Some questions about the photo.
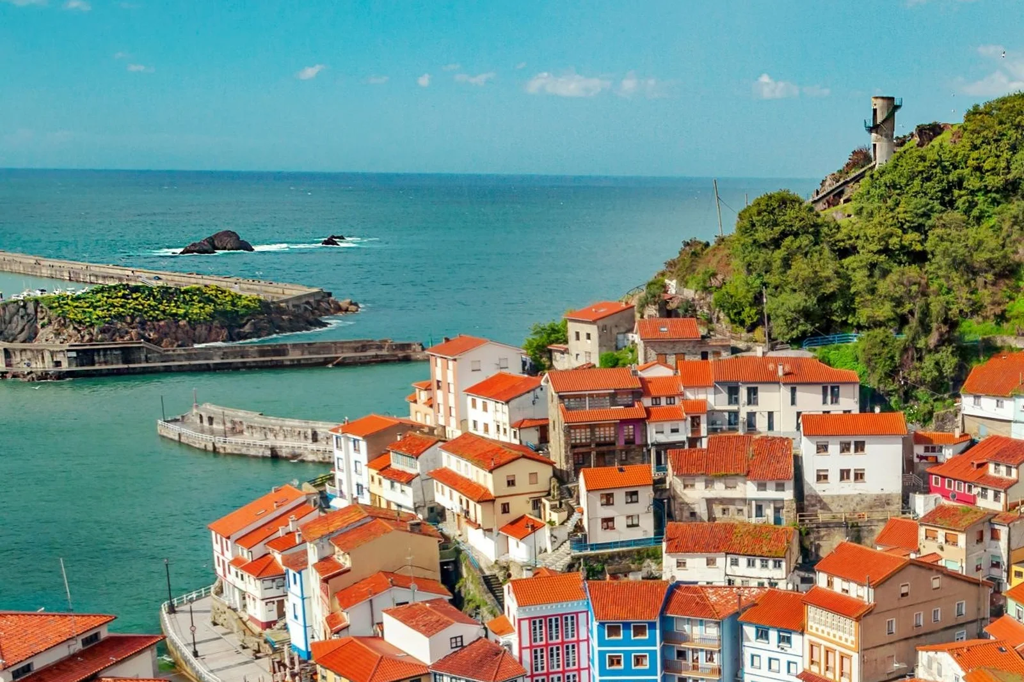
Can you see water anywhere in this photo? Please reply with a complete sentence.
Yes, there is water in the image.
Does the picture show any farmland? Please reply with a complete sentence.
No, there is no farmland in the image.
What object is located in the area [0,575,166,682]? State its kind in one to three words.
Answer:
building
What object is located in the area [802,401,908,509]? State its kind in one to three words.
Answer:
house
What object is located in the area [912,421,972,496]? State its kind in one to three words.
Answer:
house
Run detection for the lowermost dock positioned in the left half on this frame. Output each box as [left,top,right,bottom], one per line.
[158,391,406,465]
